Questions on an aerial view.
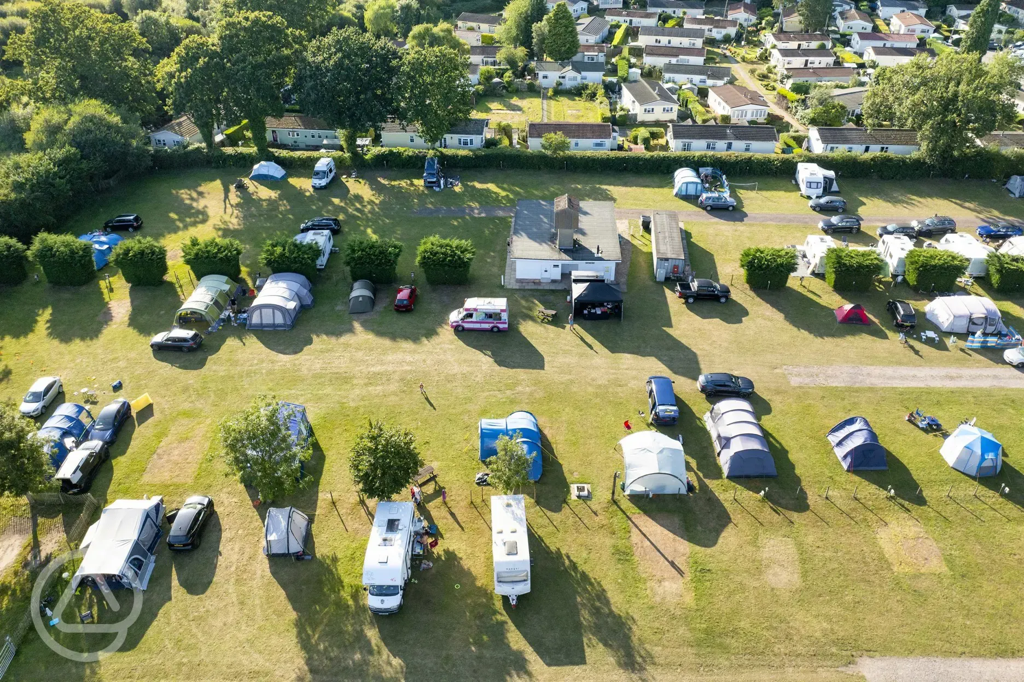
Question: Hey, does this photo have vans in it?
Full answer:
Yes, you can see a van in this photo.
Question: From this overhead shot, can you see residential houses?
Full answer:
Yes, a residential house is visible in the scene.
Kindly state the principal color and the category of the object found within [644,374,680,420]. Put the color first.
blue vehicle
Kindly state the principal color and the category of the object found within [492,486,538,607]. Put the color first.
white camper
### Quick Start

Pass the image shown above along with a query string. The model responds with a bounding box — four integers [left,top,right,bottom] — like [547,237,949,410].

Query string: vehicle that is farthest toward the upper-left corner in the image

[98,212,146,232]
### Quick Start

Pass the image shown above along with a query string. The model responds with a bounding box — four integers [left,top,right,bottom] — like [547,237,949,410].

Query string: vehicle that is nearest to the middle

[446,294,509,332]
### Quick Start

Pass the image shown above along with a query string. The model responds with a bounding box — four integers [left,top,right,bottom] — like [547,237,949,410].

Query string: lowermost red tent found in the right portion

[835,306,871,326]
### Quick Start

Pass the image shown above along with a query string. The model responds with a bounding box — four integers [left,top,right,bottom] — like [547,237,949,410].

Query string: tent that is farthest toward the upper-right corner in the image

[1000,175,1024,197]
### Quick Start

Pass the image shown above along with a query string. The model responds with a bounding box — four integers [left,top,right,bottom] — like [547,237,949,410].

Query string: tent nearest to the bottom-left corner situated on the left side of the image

[66,494,164,599]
